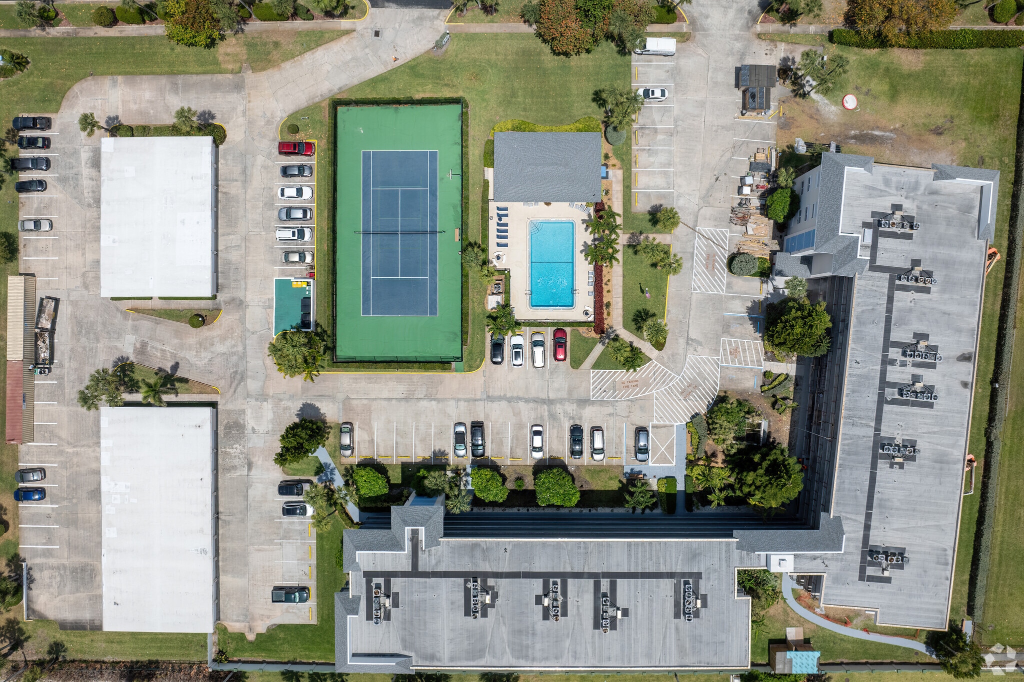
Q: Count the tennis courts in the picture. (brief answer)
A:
1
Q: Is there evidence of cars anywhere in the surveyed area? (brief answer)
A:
Yes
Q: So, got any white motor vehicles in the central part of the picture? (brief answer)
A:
Yes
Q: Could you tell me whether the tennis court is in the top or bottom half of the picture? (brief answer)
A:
top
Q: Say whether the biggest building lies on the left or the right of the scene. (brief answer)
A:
right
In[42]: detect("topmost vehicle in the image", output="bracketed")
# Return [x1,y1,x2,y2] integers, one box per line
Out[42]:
[638,36,677,55]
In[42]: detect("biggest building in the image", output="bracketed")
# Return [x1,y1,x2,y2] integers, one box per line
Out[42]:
[335,152,999,673]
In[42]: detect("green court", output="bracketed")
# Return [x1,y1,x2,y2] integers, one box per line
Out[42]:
[335,104,463,372]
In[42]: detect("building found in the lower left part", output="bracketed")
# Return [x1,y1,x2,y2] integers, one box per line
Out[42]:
[99,407,222,633]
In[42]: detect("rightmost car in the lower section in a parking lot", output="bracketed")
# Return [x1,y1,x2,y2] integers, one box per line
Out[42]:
[635,427,651,462]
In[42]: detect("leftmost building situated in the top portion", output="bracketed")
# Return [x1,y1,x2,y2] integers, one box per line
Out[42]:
[101,136,224,297]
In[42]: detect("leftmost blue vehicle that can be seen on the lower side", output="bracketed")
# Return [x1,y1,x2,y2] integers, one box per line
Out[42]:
[14,487,48,503]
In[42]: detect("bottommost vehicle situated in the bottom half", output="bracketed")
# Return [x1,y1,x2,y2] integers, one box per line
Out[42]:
[271,586,311,603]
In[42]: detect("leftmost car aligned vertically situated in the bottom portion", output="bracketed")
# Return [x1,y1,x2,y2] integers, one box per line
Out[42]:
[338,422,354,457]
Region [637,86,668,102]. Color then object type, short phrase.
white car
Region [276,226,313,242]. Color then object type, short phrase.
white car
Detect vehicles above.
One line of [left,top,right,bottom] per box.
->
[18,217,54,233]
[338,422,354,457]
[279,206,313,222]
[509,335,525,368]
[14,468,48,484]
[14,487,48,503]
[280,163,313,179]
[276,226,313,242]
[529,425,545,459]
[9,155,52,172]
[12,114,54,131]
[282,502,316,518]
[637,86,668,102]
[278,185,313,200]
[569,424,585,459]
[452,422,468,457]
[13,177,49,194]
[304,273,315,278]
[590,426,606,461]
[470,421,486,457]
[638,36,677,55]
[271,586,311,603]
[282,249,314,265]
[552,329,568,362]
[278,139,315,156]
[278,481,315,498]
[635,427,651,462]
[530,333,546,369]
[18,134,53,150]
[489,333,505,365]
